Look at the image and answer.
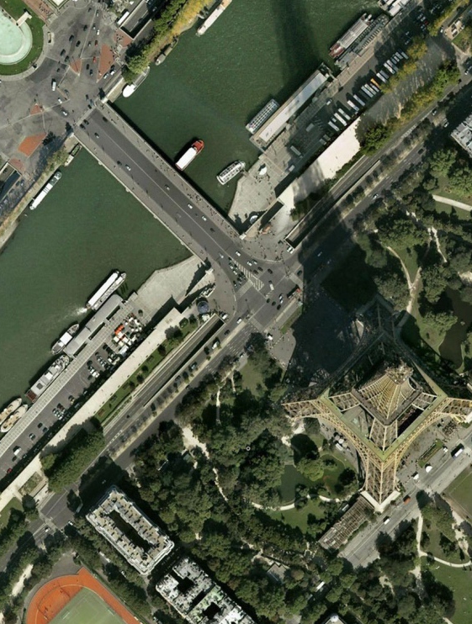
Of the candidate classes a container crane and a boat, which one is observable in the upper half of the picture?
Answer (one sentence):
There is a boat in the upper half of the picture.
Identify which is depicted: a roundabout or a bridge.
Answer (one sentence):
It is a bridge that can be seen here.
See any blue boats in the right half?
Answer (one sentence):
No, there is no blue boat in the right half.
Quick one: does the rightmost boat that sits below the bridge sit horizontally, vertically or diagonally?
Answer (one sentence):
The rightmost boat that sits below the bridge runs diagonally in the image.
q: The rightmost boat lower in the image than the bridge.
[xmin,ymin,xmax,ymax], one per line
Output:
[86,270,124,310]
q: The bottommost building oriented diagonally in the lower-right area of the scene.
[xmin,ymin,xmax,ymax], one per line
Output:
[320,498,374,549]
